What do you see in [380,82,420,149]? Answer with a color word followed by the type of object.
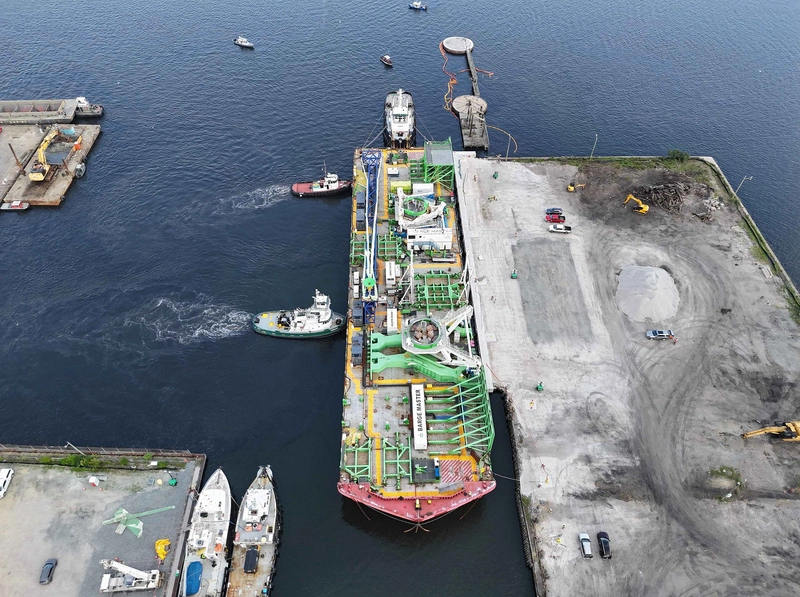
white boat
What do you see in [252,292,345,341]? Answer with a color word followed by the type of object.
white boat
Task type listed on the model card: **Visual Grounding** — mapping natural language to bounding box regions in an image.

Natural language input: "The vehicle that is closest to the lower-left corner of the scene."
[34,559,58,588]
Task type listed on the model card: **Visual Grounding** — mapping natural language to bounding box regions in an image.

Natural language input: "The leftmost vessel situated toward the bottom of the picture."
[170,467,232,597]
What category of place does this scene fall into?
port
